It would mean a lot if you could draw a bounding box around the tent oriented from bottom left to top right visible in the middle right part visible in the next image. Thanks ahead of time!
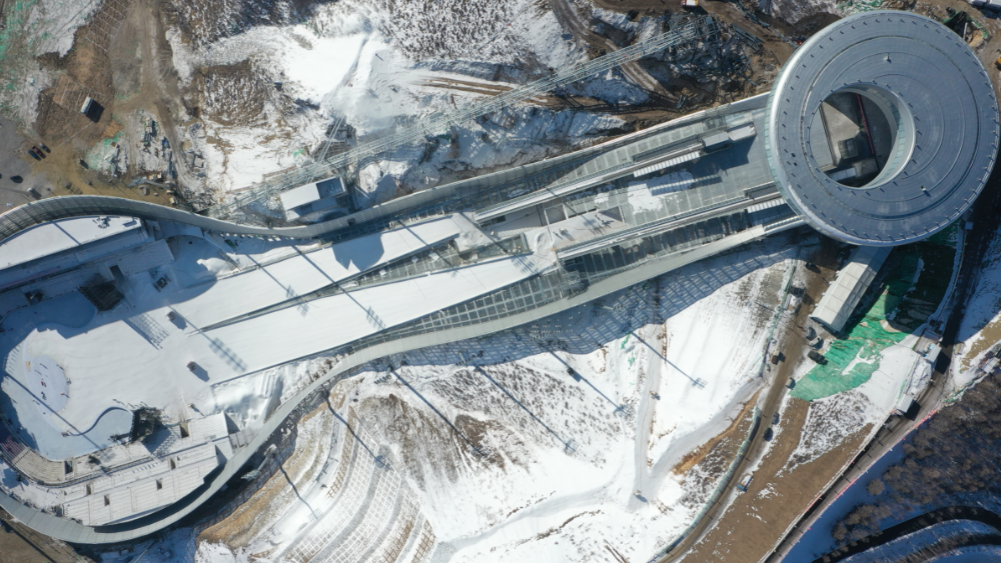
[817,244,898,331]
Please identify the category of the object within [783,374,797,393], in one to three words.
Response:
vehicle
